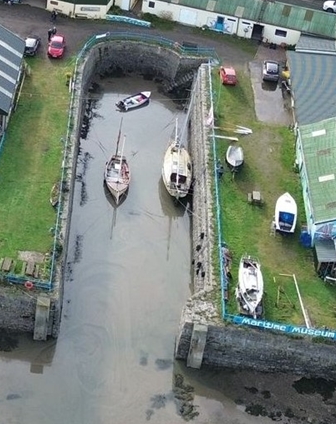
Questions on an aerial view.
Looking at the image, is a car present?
Yes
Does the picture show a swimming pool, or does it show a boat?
boat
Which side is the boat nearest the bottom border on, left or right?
right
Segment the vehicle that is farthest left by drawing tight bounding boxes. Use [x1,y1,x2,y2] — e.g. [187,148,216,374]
[27,34,42,58]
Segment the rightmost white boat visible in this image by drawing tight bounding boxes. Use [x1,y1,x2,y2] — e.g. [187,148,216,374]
[272,185,299,241]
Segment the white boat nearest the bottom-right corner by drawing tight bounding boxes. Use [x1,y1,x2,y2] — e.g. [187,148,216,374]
[237,256,267,317]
